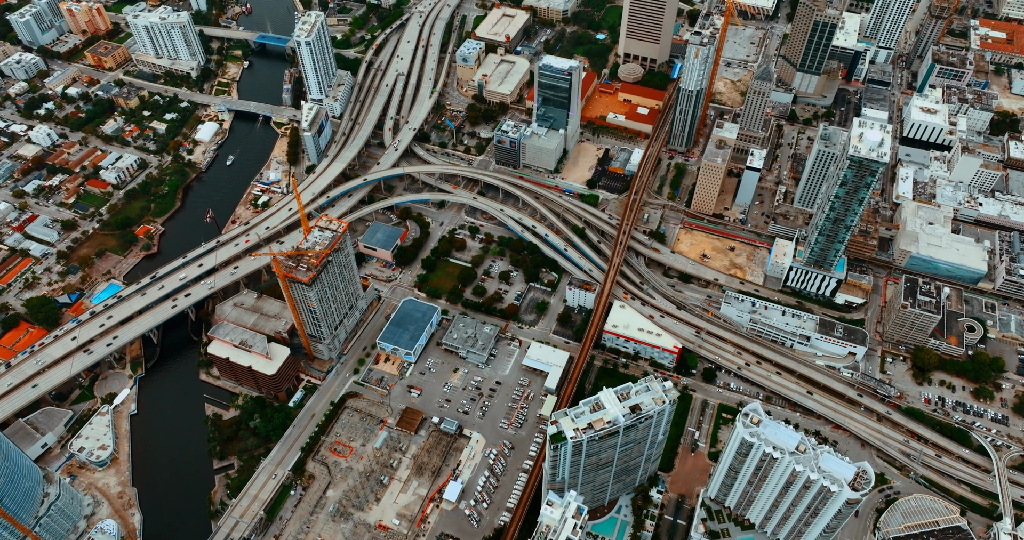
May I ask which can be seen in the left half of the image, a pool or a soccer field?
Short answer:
pool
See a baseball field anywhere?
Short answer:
No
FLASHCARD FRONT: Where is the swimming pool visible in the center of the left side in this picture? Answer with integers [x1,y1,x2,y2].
[86,281,127,305]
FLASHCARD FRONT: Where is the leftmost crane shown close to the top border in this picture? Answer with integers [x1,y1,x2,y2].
[695,0,757,145]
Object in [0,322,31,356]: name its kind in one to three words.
house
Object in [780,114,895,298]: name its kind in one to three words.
building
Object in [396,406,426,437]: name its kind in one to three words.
shed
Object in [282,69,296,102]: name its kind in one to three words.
vessel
